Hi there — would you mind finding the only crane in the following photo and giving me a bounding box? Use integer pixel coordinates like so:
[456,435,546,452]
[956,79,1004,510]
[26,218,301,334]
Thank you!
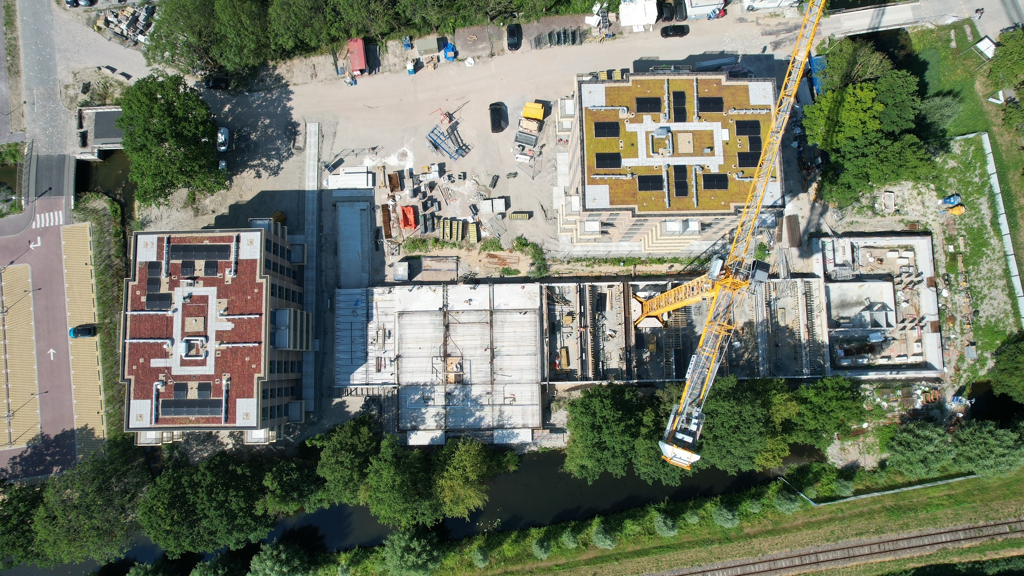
[635,0,825,472]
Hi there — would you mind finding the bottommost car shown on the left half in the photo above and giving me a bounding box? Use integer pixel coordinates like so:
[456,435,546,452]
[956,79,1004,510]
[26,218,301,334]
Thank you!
[70,326,96,339]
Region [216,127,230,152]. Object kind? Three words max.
car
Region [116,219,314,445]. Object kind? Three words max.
building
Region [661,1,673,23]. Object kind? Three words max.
vehicle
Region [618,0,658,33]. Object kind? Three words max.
building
